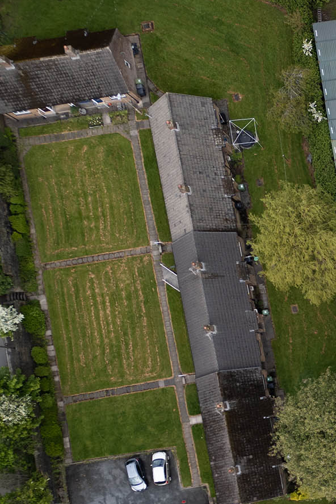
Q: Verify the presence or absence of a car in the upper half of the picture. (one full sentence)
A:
No, I can find no car in the upper half of the picture.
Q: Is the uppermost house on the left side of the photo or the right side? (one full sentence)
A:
It is on the left.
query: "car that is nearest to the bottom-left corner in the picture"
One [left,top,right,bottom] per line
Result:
[124,457,150,490]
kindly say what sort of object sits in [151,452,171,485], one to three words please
car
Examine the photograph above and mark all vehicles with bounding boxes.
[124,457,150,490]
[151,452,171,485]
